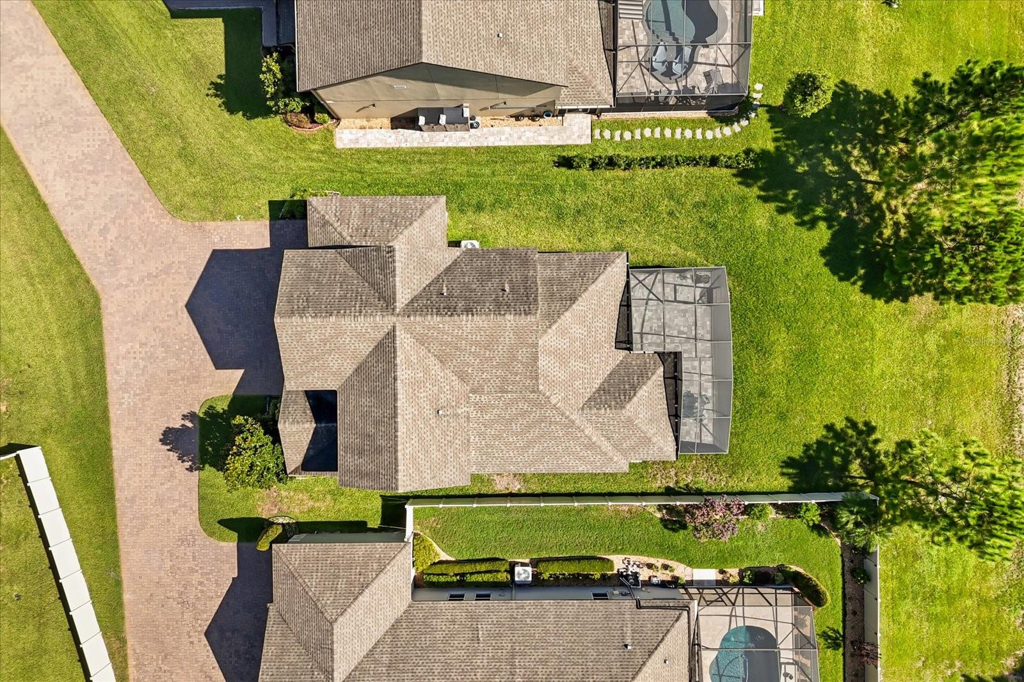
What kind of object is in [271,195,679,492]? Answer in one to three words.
house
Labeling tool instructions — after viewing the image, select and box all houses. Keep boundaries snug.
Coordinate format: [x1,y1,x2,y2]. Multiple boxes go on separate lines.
[271,195,679,492]
[256,532,697,682]
[276,0,617,122]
